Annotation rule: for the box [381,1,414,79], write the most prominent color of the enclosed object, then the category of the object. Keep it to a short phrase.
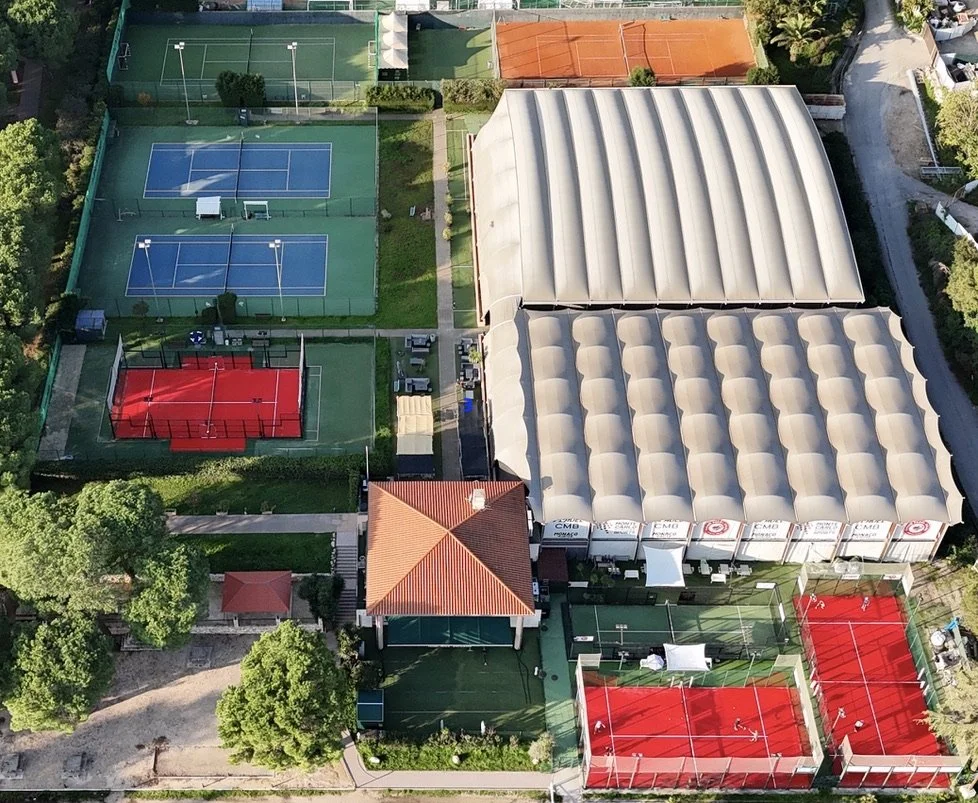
white tent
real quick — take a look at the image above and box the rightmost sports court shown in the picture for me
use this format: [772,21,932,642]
[796,564,972,797]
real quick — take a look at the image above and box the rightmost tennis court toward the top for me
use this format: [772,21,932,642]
[497,21,755,80]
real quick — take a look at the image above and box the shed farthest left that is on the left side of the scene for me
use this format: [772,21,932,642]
[73,312,108,340]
